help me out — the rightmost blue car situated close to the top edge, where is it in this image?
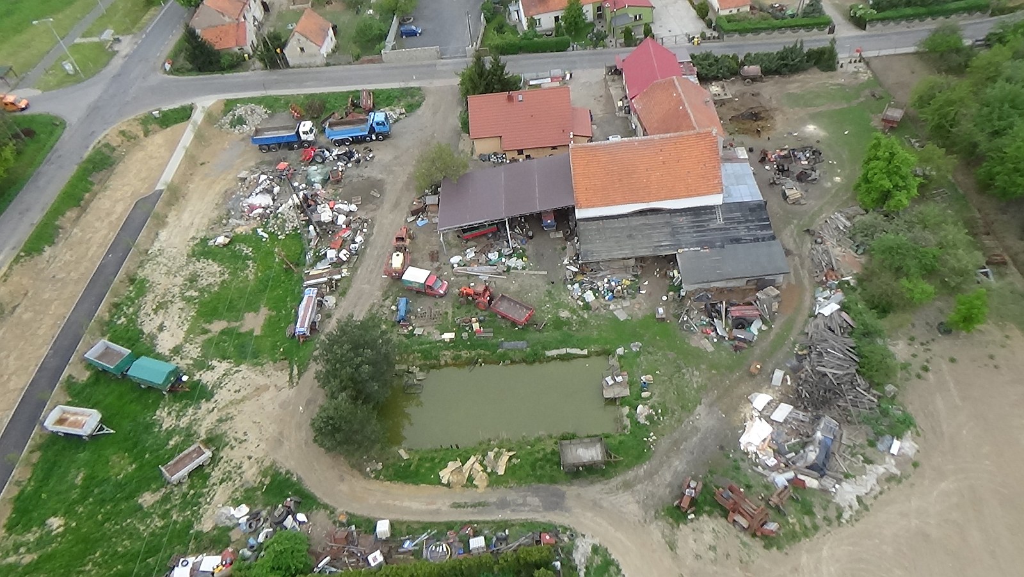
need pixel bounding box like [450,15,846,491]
[400,24,420,36]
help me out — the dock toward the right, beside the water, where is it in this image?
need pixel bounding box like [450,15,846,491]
[602,357,629,402]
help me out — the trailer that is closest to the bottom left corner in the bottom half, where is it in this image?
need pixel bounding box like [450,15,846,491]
[49,407,108,437]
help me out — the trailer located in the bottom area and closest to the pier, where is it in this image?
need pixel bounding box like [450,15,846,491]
[558,439,623,474]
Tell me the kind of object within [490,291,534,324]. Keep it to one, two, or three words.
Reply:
trailer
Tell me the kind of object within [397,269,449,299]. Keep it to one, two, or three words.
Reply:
van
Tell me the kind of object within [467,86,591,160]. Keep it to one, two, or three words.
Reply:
house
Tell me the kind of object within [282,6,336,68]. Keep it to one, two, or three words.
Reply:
shed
